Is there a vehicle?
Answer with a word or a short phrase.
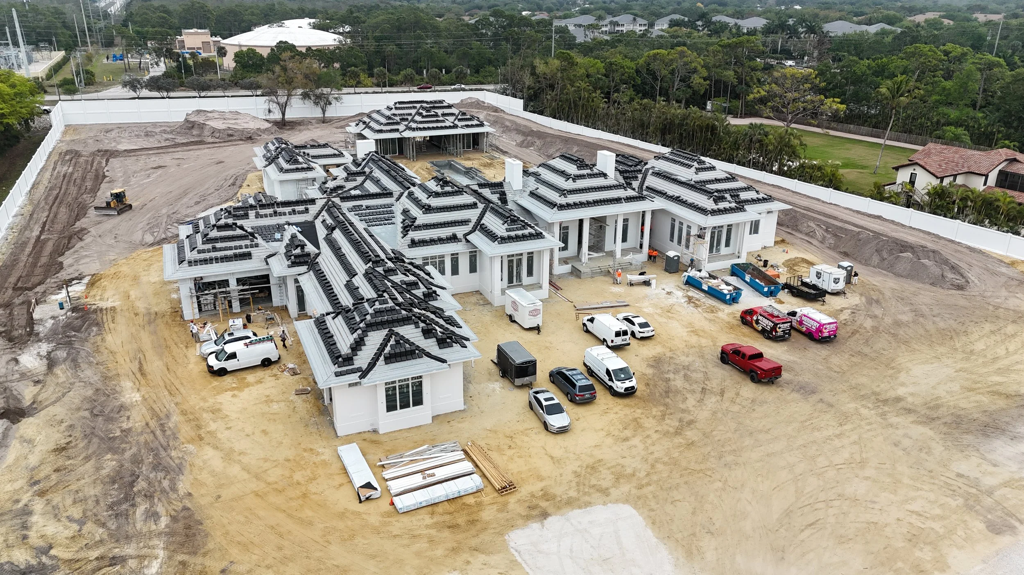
Yes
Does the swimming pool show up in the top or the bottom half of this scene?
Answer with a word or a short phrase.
top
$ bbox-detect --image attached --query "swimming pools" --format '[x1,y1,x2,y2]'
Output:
[425,159,492,195]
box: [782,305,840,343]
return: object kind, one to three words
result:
van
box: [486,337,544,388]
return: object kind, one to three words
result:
trailer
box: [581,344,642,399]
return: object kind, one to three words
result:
van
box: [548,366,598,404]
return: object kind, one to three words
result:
car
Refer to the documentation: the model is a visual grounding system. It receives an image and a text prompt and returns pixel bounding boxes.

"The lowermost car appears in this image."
[528,391,572,434]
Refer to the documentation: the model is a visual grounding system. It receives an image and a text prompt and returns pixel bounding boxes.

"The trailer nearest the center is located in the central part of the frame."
[506,291,545,333]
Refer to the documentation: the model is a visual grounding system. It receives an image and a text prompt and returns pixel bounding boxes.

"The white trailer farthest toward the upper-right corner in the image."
[806,261,852,295]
